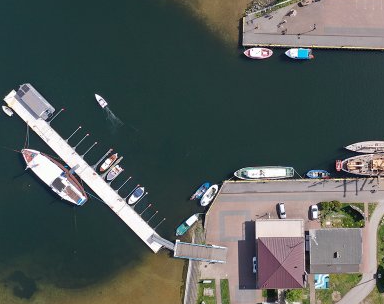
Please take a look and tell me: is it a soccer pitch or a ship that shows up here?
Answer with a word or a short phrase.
ship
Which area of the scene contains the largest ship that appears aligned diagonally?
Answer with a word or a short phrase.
left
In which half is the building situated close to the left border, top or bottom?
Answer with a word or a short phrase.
top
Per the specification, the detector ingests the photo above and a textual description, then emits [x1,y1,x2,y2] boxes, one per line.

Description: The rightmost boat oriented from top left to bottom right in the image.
[93,94,108,109]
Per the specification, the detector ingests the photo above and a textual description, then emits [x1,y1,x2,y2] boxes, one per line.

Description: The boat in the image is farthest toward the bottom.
[175,211,206,236]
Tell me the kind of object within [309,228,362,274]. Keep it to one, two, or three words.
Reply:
building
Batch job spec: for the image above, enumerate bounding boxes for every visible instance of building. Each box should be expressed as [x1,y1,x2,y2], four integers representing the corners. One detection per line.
[256,235,308,289]
[12,85,53,121]
[309,228,362,274]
